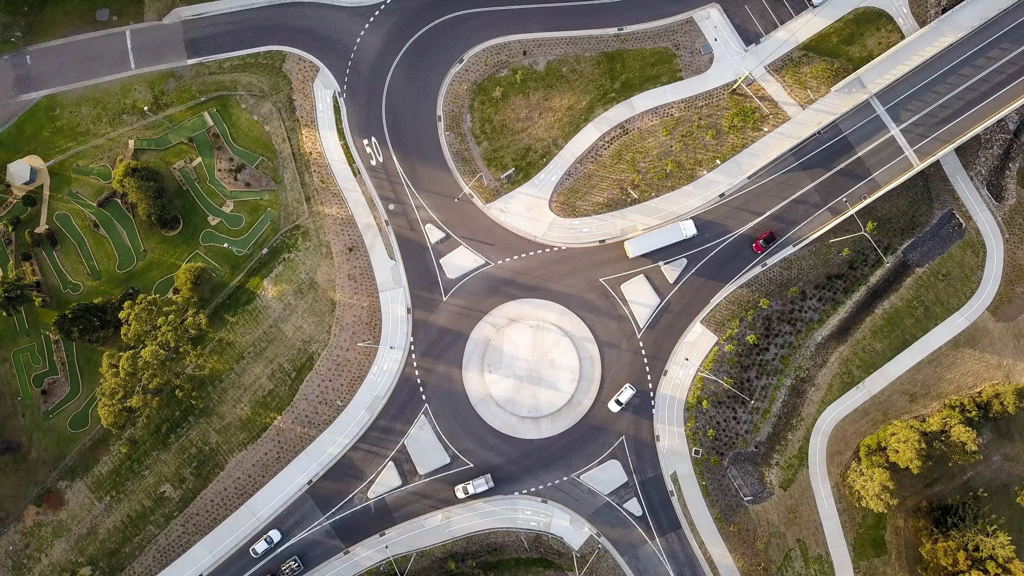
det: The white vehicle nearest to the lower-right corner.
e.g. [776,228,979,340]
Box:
[607,381,638,413]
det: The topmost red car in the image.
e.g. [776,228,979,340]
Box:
[751,228,779,254]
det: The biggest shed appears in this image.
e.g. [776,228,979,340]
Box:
[6,159,43,187]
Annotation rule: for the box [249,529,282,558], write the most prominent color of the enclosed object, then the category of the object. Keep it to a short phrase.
white car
